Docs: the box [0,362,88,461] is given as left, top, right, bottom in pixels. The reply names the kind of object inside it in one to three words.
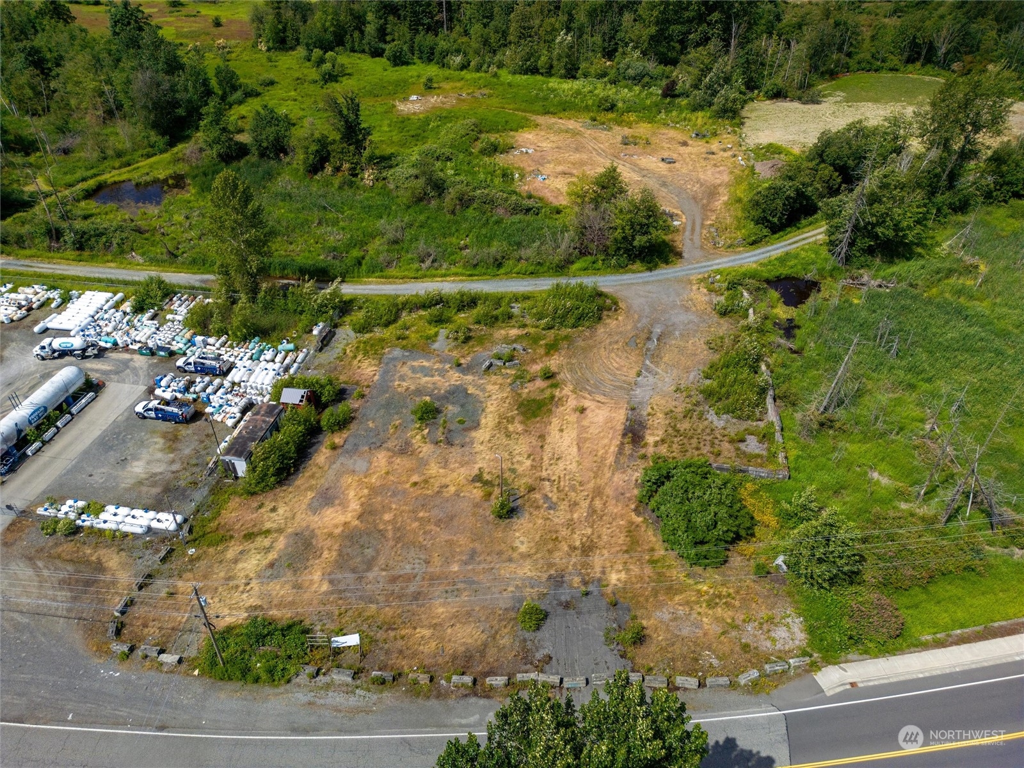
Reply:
storage tank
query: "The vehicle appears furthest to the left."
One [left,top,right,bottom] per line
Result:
[27,334,99,359]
